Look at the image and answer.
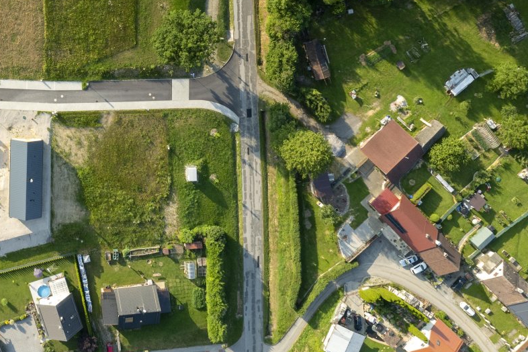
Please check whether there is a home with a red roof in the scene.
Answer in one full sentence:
Yes, the frame does contain a home with a red roof.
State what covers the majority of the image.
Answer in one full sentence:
Most of the picture is covered by grass.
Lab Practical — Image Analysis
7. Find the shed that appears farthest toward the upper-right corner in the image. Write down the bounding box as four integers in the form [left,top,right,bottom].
[444,71,474,96]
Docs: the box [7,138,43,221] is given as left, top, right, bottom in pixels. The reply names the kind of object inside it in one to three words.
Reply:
house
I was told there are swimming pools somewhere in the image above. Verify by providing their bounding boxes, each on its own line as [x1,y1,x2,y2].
[38,286,51,299]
